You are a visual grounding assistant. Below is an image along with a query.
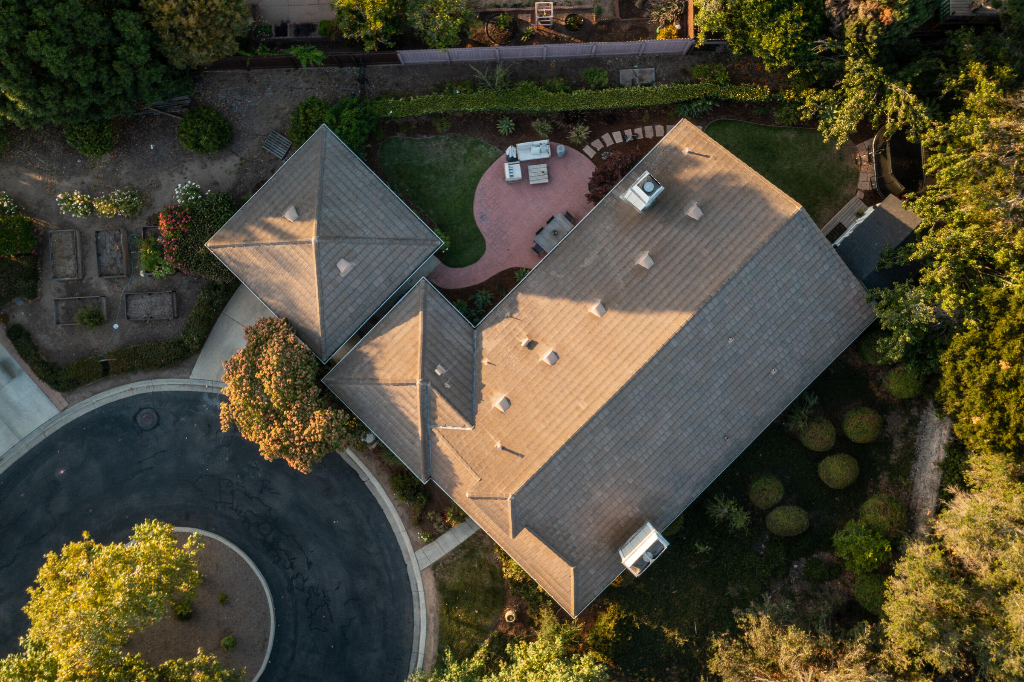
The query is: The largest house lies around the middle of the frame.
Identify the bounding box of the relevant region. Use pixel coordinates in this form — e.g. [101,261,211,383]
[319,118,878,621]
